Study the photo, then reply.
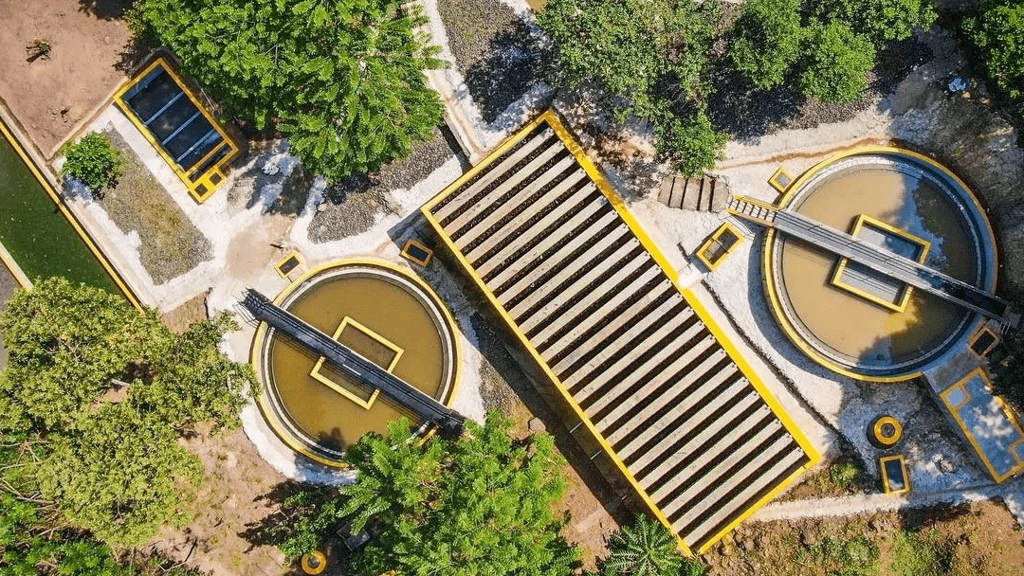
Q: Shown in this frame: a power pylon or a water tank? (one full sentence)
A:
It is a water tank that can be seen here.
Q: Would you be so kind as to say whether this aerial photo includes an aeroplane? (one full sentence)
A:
No, there isn't any aeroplane down there.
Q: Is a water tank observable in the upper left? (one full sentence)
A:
Yes, you'll find a water tank in the upper left.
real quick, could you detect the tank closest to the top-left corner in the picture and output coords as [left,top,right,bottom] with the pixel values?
[114,58,245,204]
